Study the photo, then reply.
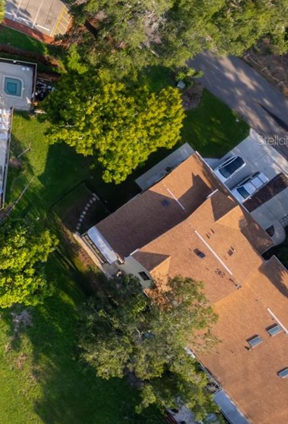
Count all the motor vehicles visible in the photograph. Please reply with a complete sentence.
The picture shows 2 motor vehicles.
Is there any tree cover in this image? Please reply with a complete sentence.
Yes, some tree cover is visible.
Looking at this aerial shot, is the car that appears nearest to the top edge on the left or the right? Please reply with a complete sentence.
You can find the car that appears nearest to the top edge on the right side of the picture.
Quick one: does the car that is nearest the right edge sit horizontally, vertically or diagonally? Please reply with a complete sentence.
In this picture, the car that is nearest the right edge lies diagonally.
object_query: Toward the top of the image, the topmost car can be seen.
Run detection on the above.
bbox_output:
[214,152,252,183]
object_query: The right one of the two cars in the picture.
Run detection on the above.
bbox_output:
[235,171,274,204]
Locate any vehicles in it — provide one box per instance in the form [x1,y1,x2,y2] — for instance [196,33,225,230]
[214,152,252,183]
[235,171,274,204]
